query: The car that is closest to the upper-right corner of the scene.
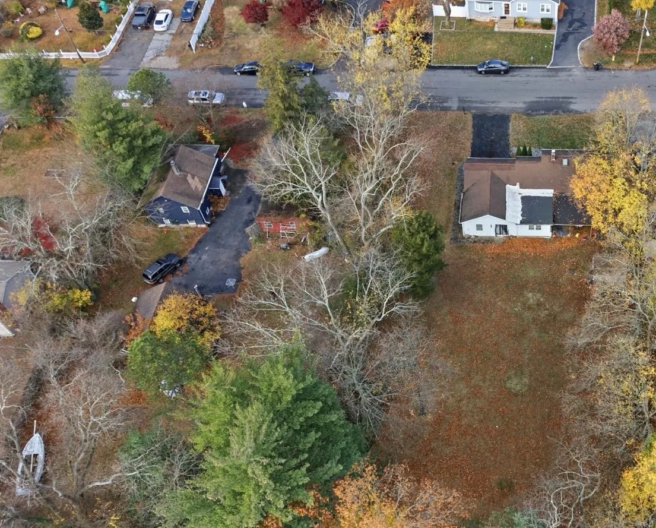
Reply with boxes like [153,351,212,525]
[476,59,510,75]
